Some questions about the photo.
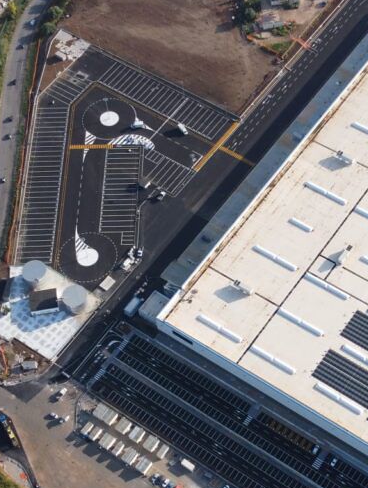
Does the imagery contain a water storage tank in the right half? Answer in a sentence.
No, I can find no water storage tank in the right half.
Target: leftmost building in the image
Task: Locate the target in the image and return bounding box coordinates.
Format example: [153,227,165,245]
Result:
[25,289,61,316]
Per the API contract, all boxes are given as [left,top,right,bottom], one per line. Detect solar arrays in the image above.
[341,310,368,349]
[312,351,368,410]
